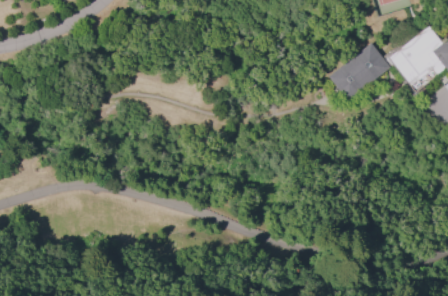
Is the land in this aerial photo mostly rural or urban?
rural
